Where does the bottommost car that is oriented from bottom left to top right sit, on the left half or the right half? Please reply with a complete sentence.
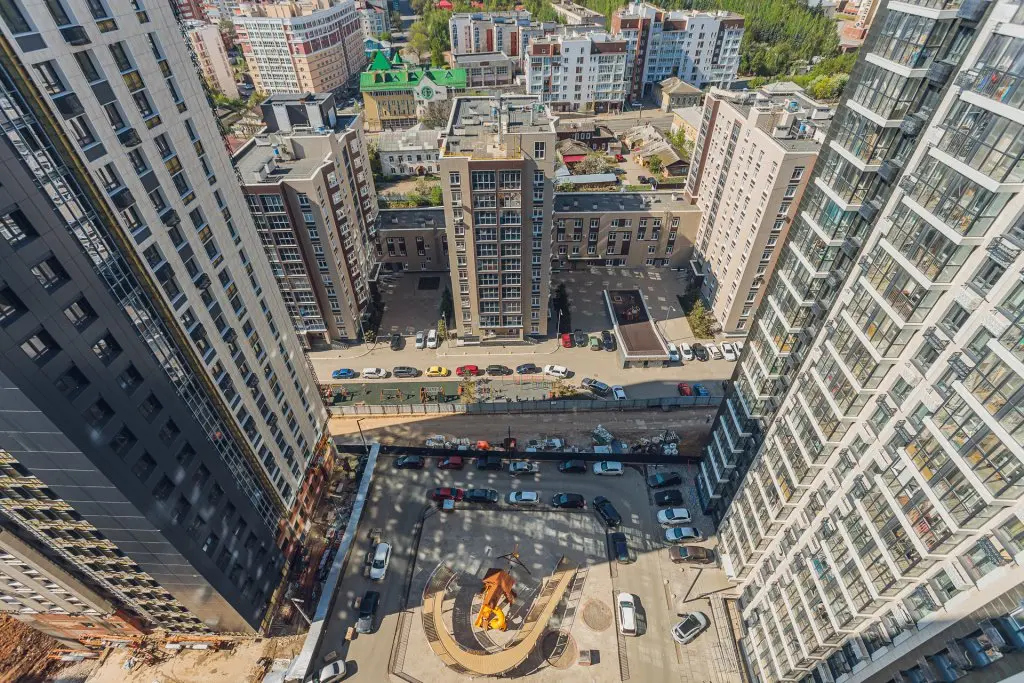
The bottommost car that is oriented from bottom left to top right is on the left side of the image.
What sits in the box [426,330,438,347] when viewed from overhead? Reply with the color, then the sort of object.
white vehicle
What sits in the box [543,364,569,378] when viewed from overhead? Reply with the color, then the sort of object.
white car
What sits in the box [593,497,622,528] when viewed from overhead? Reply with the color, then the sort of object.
black car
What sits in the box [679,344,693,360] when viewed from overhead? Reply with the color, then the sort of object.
white car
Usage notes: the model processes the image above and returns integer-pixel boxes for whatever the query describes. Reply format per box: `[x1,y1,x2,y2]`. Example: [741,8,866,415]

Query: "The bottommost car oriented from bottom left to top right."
[314,650,353,683]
